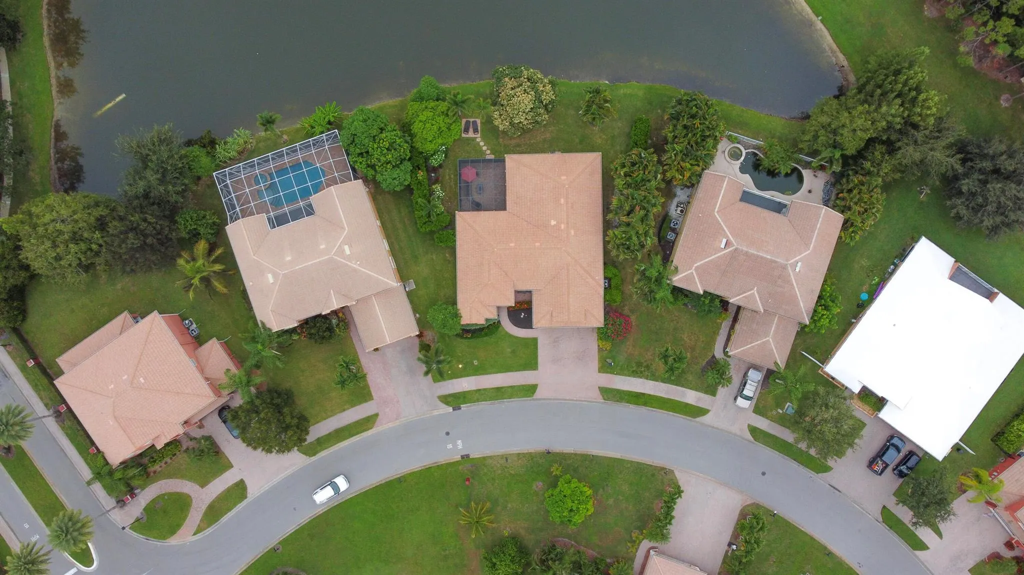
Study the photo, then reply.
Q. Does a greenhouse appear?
No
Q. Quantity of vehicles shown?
5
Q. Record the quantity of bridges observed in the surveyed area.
0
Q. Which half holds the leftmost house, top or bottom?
bottom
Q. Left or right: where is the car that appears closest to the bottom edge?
left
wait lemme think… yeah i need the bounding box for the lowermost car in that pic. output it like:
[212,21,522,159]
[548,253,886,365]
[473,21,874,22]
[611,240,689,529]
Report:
[311,475,352,506]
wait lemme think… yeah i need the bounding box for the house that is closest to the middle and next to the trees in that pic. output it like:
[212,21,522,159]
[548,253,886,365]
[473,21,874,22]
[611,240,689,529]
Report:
[455,152,605,329]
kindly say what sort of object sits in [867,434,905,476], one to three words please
truck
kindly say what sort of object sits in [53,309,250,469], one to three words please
house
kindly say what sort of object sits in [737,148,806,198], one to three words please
swimming pool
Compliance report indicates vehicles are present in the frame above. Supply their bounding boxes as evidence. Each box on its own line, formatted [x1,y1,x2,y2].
[734,367,763,408]
[892,448,922,479]
[867,434,905,476]
[218,406,239,441]
[311,475,352,506]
